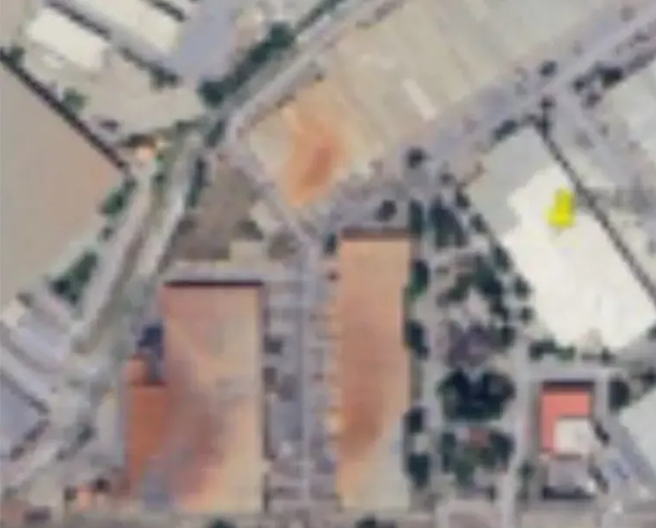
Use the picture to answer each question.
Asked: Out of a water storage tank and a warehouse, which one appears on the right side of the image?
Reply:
warehouse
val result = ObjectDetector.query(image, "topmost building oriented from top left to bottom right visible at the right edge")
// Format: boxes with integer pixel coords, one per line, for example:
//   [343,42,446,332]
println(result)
[467,128,656,353]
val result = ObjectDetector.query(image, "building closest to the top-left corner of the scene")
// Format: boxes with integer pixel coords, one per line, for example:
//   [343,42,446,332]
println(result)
[24,2,111,69]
